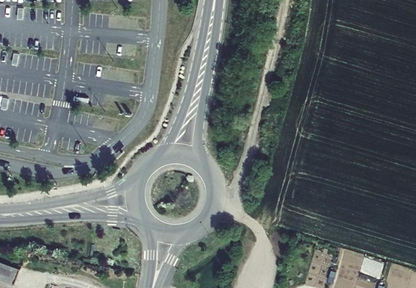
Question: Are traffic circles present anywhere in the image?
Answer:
Yes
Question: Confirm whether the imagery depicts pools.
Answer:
No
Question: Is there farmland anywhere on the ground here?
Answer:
Yes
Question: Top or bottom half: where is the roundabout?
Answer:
bottom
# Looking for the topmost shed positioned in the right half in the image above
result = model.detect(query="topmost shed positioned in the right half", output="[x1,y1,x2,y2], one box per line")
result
[360,258,385,280]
